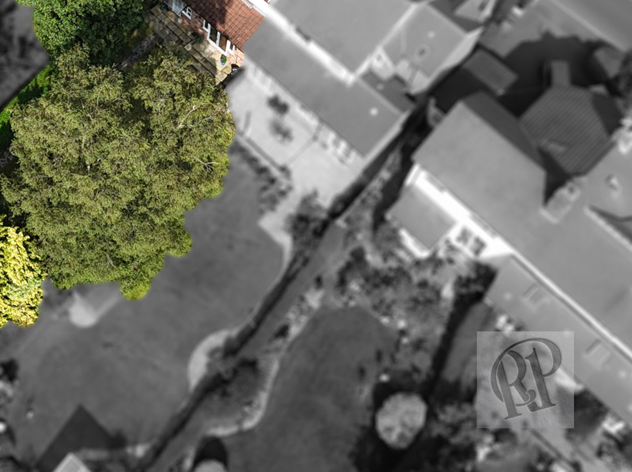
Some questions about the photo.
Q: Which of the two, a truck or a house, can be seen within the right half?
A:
house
